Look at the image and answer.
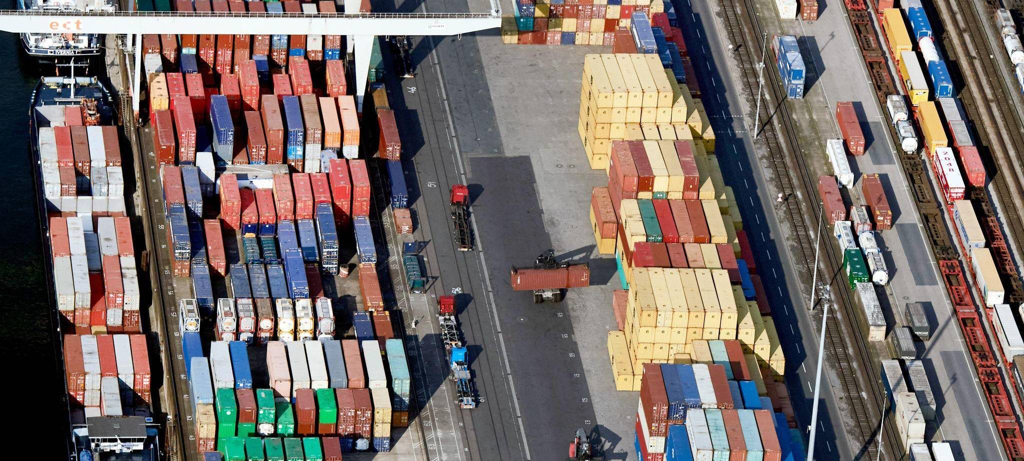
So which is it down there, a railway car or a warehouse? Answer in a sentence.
Of the two, only a railway car appears.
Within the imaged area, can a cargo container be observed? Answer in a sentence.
Yes, a cargo container is visible in the scene.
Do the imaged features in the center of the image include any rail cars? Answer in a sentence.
No, no rail car appears in the center of the image.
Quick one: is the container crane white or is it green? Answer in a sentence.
The color of the container crane is white.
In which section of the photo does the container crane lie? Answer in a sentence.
The container crane is located in the top left region of the scene.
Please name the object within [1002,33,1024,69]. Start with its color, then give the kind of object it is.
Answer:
white rail car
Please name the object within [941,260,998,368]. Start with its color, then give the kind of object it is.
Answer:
red rail car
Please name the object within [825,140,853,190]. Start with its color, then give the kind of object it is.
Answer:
white shipping container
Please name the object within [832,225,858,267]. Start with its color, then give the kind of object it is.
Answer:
white shipping container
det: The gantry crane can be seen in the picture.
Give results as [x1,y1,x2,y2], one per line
[0,0,506,124]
